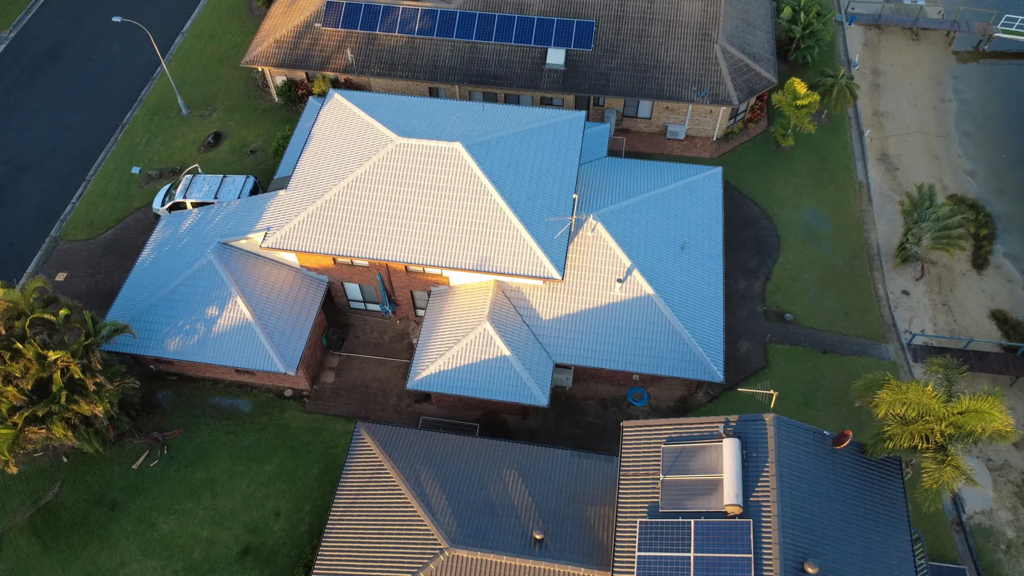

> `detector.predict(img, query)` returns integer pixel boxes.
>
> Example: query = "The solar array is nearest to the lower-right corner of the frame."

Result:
[634,519,754,576]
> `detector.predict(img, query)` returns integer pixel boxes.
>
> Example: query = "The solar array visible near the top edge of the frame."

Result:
[320,1,597,50]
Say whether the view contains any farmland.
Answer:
No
